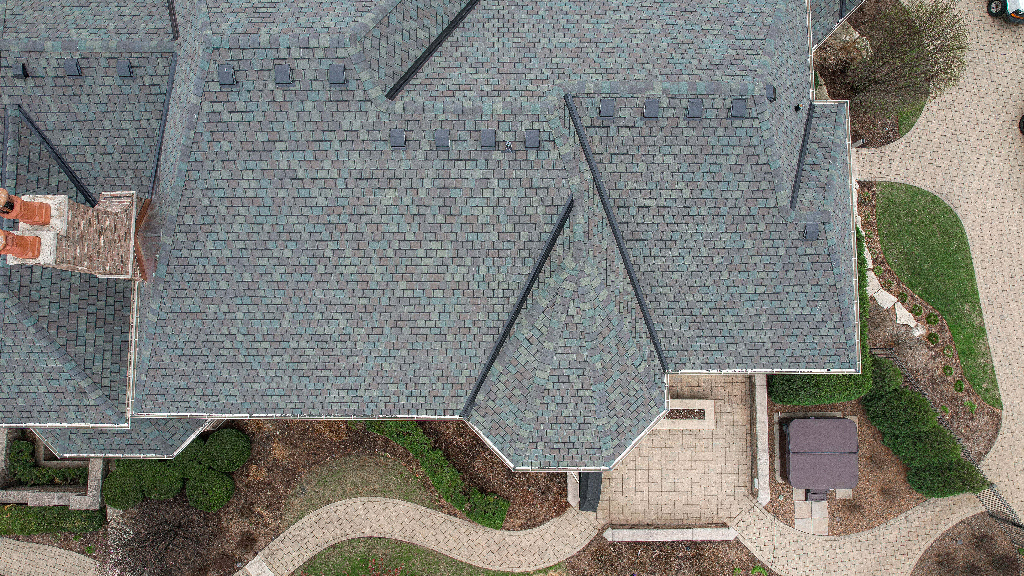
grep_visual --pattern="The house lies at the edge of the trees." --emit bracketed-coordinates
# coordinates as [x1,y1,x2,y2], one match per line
[0,0,871,486]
